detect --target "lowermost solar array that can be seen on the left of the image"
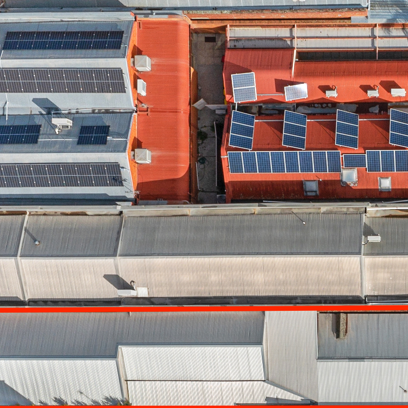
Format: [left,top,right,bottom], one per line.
[0,164,123,188]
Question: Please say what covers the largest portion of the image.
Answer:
buildings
